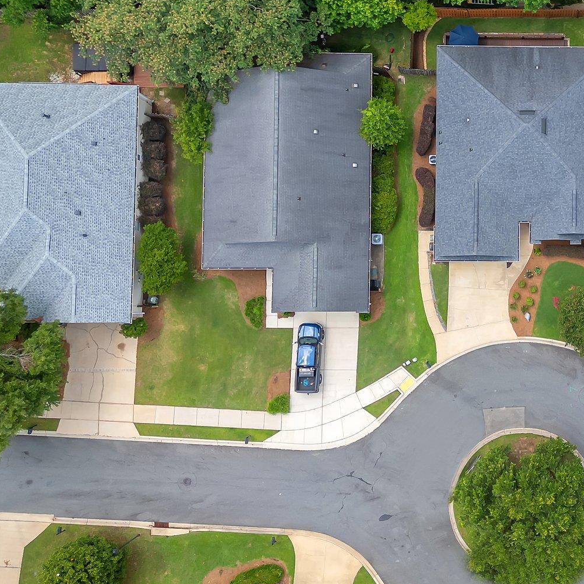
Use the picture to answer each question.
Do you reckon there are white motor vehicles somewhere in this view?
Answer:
No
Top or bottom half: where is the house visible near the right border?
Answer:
top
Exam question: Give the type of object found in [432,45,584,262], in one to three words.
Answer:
house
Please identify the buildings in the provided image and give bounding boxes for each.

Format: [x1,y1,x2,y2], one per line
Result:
[0,82,155,324]
[432,45,584,262]
[201,53,378,313]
